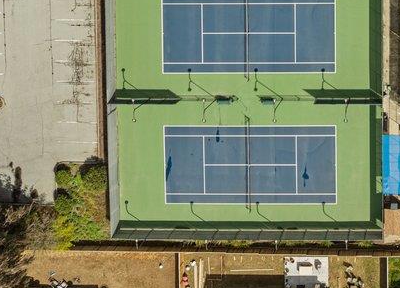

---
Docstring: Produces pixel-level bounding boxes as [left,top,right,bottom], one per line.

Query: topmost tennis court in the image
[116,0,381,99]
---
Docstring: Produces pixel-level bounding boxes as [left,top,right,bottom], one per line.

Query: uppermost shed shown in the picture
[383,208,400,236]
